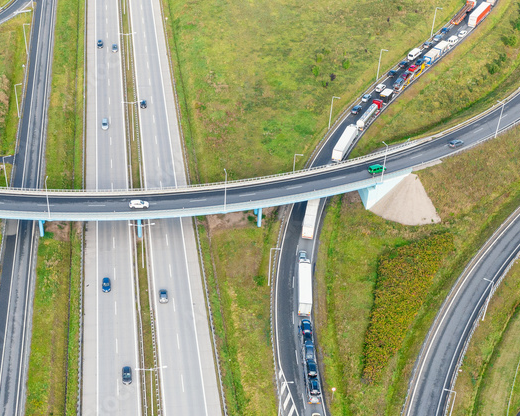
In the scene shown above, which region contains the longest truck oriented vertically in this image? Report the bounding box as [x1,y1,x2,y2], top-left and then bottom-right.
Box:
[298,323,323,407]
